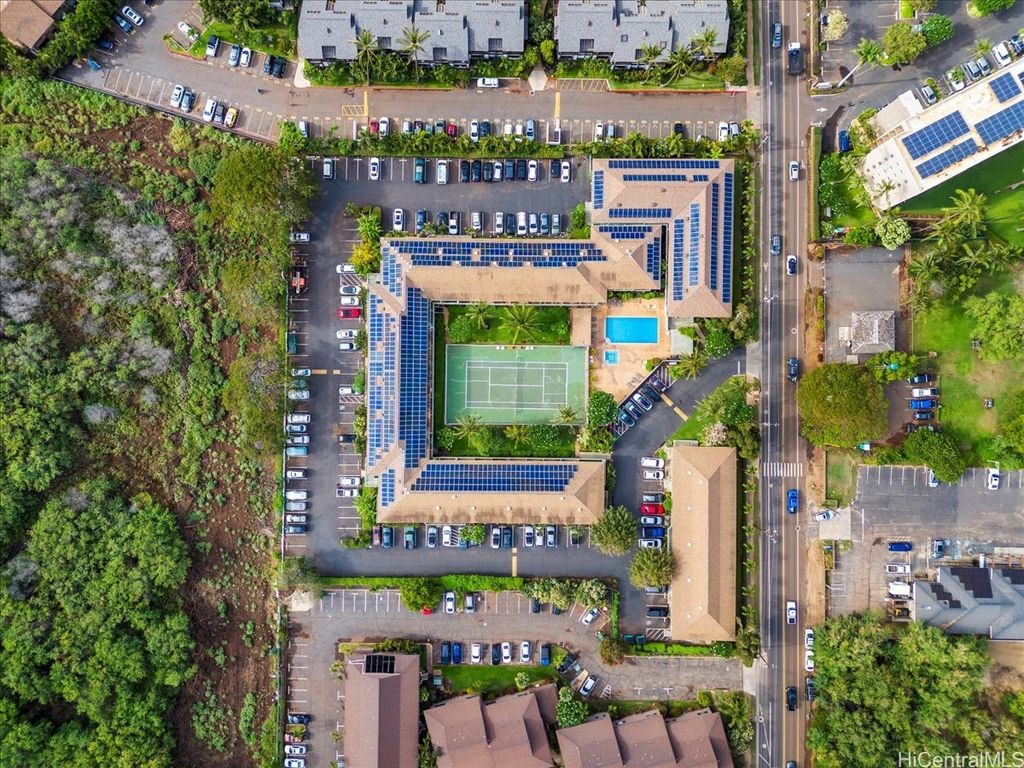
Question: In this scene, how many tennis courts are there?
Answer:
one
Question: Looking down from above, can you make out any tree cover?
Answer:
Yes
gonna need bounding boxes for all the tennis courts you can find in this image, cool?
[443,344,589,426]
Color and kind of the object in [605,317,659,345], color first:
blue swimming pool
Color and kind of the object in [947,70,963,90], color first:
white car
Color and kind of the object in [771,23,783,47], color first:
blue vehicle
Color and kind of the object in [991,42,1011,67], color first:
white vehicle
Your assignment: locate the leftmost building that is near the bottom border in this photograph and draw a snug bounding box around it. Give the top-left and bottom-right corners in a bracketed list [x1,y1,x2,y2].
[344,649,421,768]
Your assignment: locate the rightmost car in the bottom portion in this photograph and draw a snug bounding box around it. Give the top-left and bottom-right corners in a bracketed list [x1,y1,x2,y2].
[987,469,999,489]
